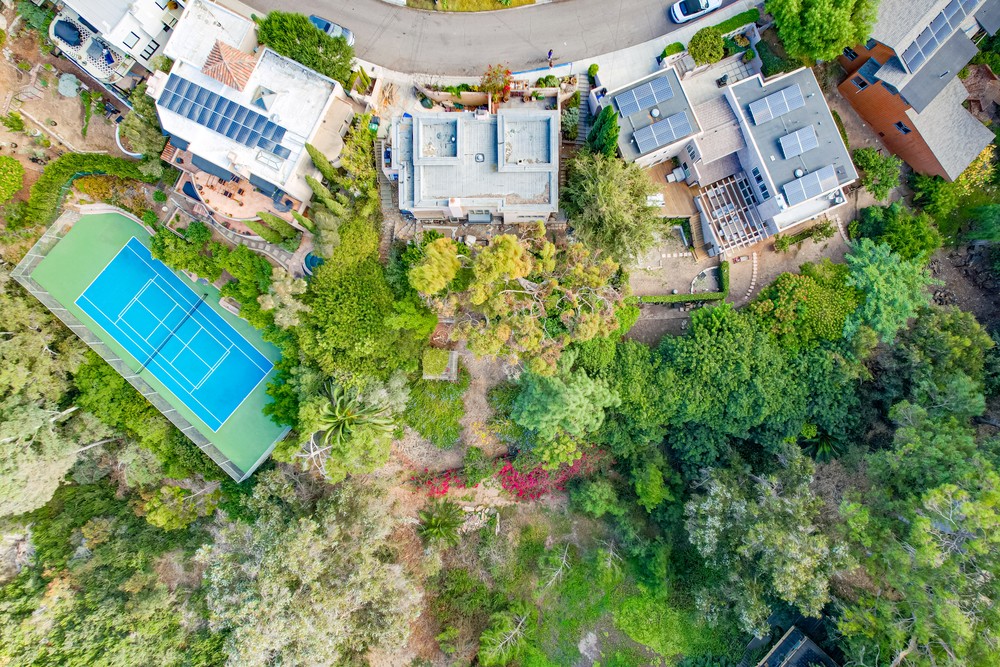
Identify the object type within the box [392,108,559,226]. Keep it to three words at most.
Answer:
house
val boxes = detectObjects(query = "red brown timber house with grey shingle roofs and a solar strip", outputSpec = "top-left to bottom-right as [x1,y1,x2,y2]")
[842,0,1000,183]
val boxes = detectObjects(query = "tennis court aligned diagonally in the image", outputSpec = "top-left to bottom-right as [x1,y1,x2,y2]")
[31,209,294,470]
